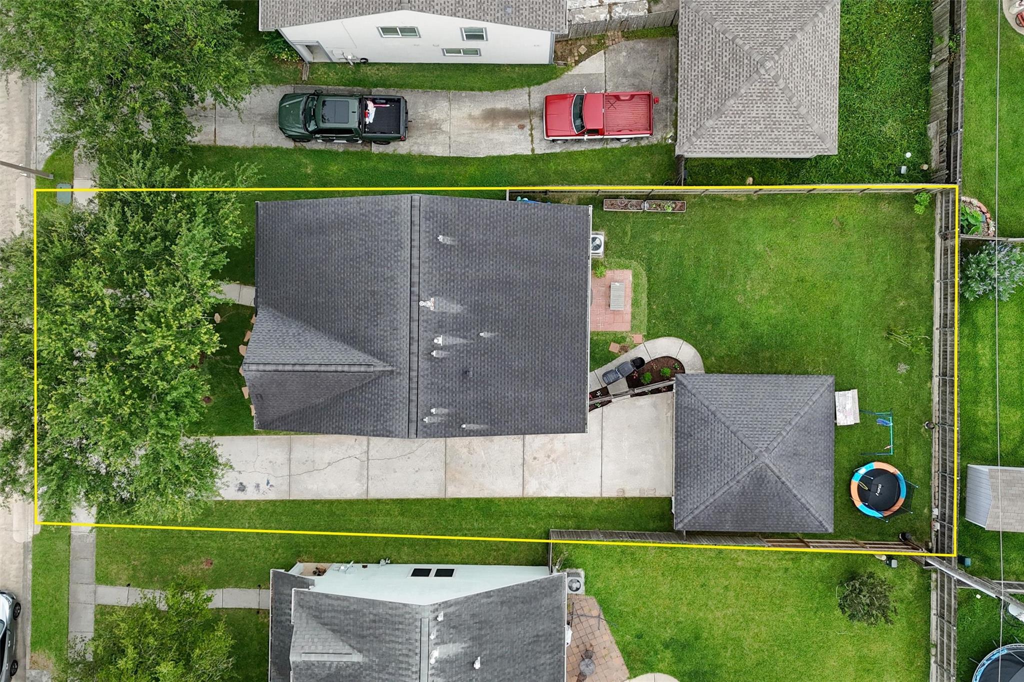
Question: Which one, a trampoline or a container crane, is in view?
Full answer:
Looking from above, you can make out a trampoline.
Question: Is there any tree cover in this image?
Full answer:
Yes, tree cover can be seen from above here.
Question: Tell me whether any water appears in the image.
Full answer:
No, the scene doesn't show any water.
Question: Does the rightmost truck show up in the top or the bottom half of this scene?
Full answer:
The top half of the photo is where the rightmost truck is.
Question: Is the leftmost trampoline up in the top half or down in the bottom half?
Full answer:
The leftmost trampoline is in the bottom half of the image.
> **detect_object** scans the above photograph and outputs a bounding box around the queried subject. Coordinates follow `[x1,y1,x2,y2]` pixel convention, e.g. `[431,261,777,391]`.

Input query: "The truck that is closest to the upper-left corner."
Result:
[278,85,414,144]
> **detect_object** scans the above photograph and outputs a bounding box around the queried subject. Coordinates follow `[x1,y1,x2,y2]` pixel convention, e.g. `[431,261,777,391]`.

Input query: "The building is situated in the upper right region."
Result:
[674,0,841,159]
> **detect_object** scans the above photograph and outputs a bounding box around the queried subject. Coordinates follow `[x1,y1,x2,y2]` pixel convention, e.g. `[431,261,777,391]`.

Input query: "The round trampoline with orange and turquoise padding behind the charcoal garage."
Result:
[847,461,919,525]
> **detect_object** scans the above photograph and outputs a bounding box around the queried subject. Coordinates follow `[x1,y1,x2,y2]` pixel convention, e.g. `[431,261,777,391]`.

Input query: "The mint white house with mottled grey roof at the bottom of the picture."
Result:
[267,559,570,682]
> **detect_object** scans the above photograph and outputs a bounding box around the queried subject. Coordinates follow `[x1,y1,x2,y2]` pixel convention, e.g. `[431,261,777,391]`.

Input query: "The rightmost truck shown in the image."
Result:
[540,85,655,142]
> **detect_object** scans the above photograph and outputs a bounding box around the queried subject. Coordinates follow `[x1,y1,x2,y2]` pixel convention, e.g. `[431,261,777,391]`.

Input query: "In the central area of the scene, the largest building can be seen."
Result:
[242,194,595,439]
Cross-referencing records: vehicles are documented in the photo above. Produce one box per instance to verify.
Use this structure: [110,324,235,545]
[278,85,414,144]
[540,85,655,142]
[0,590,25,682]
